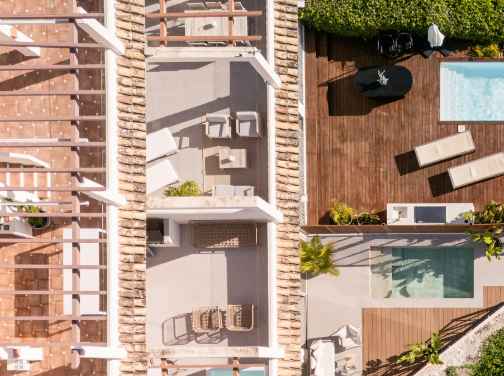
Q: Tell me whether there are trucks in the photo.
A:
No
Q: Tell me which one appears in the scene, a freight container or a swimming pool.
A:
swimming pool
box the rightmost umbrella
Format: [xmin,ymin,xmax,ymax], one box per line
[418,21,454,73]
